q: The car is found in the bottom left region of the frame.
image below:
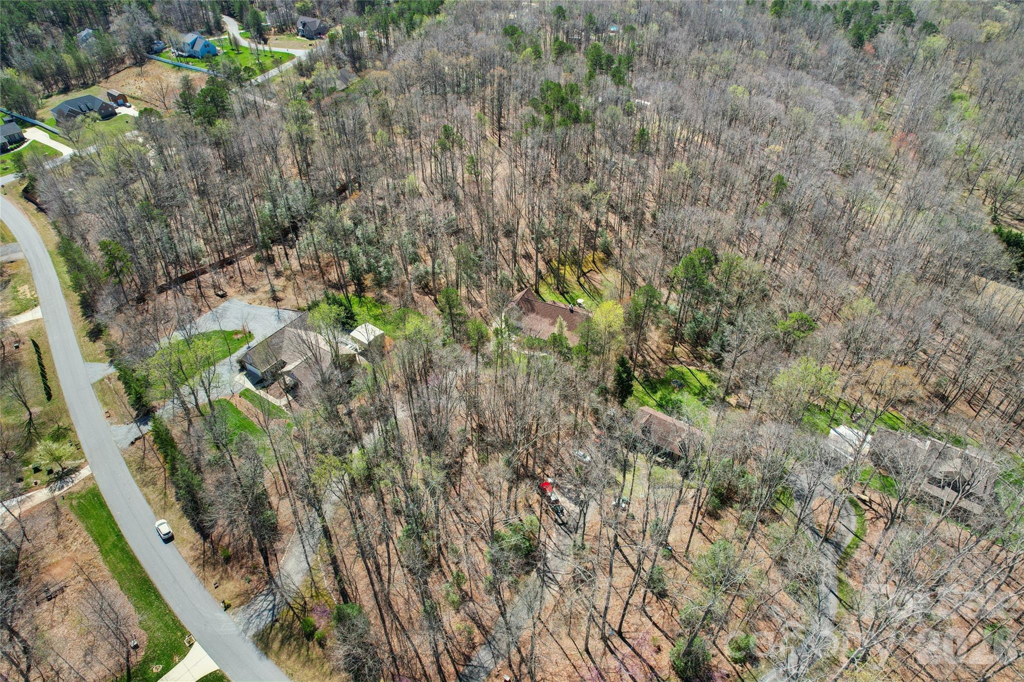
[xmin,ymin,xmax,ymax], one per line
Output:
[154,520,171,542]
